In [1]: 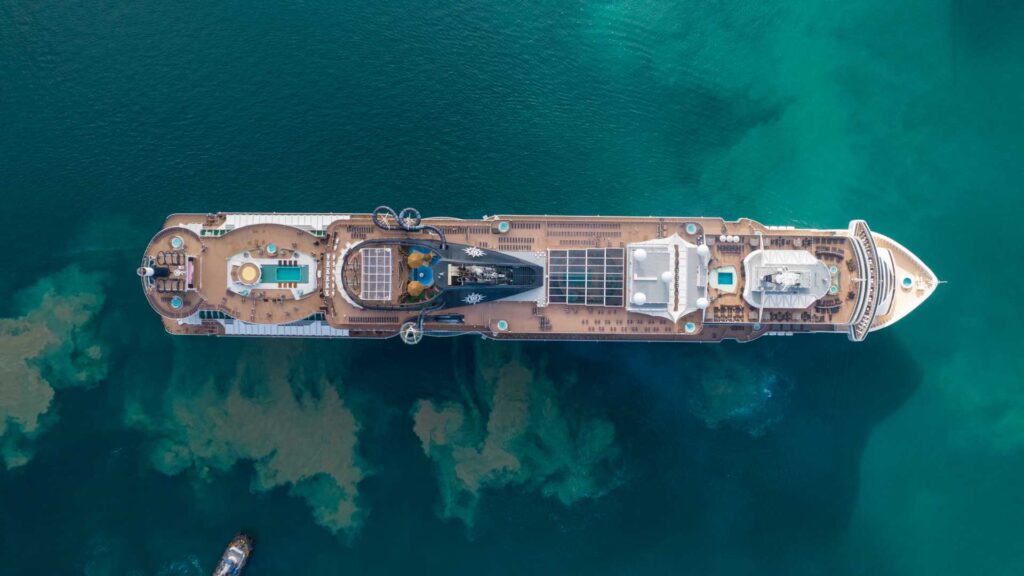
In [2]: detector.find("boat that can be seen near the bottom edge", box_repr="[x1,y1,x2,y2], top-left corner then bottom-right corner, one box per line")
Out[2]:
[209,532,251,576]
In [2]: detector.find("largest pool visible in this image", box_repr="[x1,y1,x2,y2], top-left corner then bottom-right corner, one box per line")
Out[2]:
[227,251,318,299]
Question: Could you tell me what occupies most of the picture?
water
